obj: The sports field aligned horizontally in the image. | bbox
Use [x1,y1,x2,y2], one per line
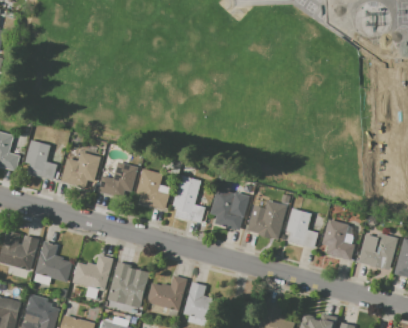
[8,0,362,196]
